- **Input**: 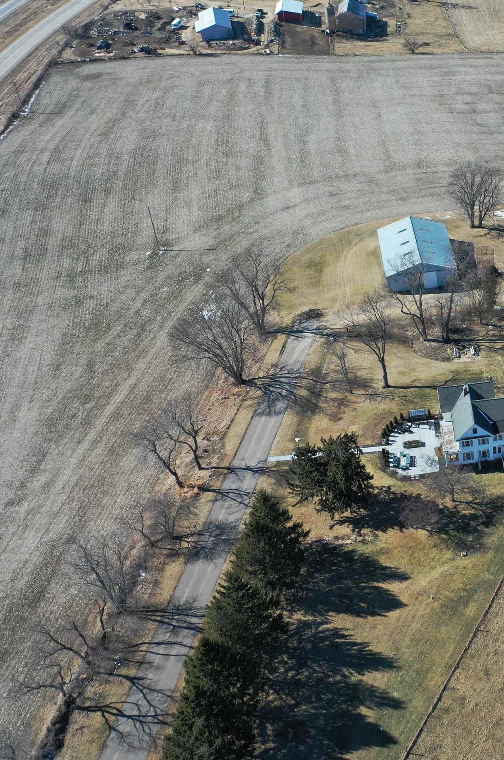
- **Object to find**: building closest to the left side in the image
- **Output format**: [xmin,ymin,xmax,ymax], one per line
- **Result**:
[191,9,236,42]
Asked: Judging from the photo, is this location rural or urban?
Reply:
rural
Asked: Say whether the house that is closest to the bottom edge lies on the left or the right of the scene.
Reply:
right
